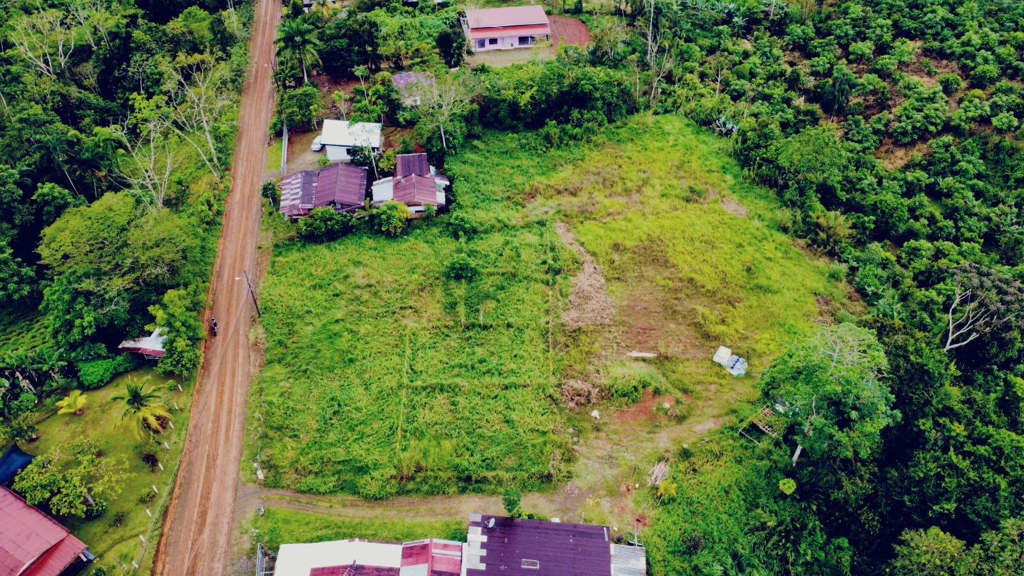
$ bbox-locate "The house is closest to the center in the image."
[369,151,458,226]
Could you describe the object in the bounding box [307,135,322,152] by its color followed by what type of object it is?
white car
